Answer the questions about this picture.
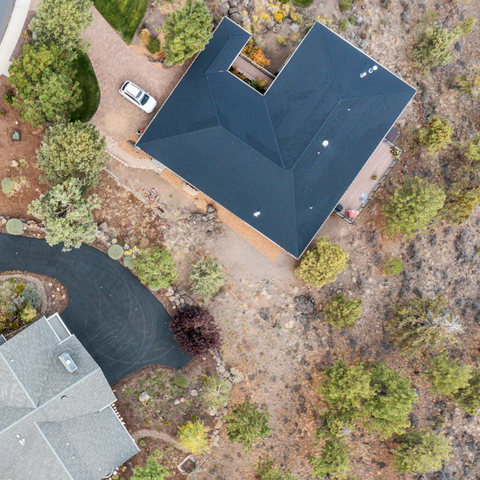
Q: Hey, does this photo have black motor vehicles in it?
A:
No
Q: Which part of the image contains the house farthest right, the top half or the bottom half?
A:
top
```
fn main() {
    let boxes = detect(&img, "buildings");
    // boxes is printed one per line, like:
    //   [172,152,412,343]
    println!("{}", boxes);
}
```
[135,16,418,260]
[0,313,141,480]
